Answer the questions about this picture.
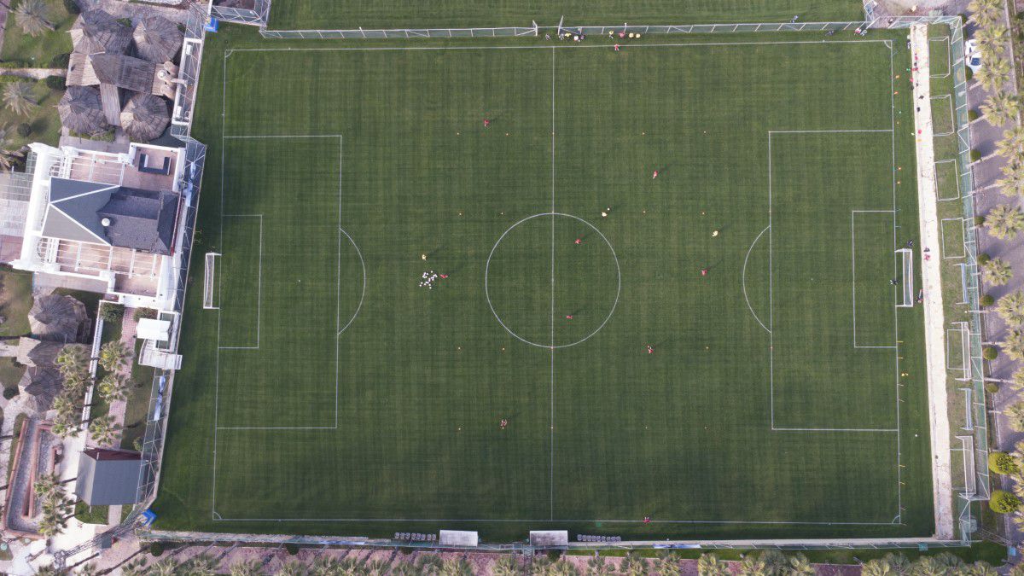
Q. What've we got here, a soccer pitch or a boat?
soccer pitch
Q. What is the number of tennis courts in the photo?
0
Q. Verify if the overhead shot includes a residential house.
Yes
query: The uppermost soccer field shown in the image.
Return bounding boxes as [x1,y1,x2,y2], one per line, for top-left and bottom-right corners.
[267,0,864,37]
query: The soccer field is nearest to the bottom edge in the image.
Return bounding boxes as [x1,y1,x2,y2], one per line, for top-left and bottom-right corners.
[147,21,935,544]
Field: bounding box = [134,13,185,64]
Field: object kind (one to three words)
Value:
shed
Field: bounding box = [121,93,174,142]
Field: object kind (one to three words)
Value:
shed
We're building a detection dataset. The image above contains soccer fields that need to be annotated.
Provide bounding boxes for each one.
[267,0,864,37]
[147,21,935,544]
